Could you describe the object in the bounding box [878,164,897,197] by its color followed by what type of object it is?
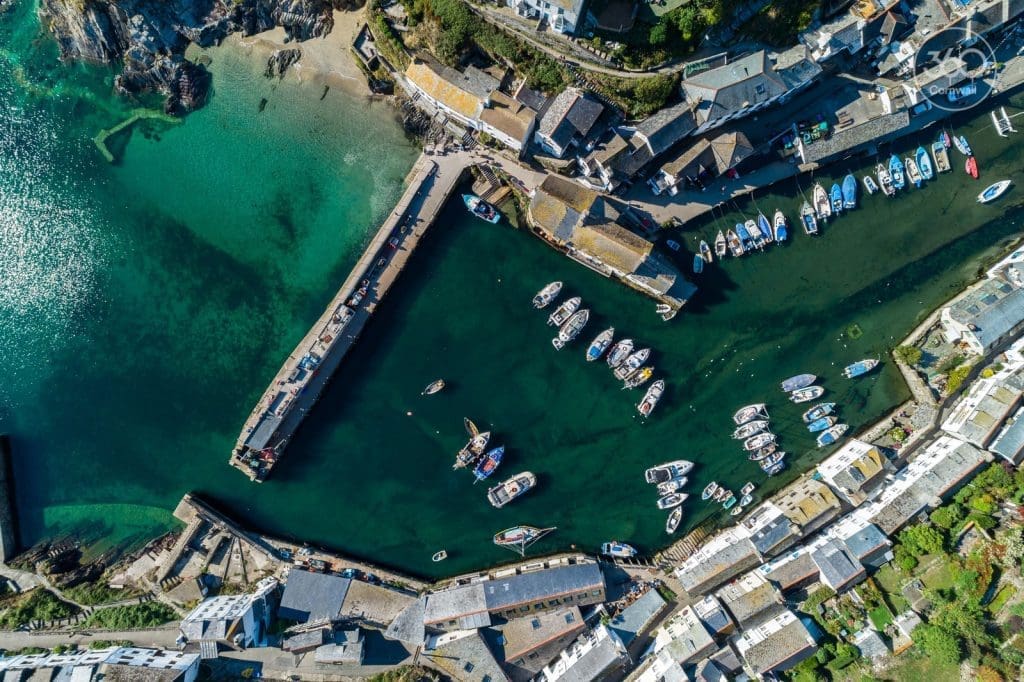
white boat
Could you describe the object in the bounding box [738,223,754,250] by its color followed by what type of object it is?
blue boat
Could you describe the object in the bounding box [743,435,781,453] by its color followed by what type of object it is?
white boat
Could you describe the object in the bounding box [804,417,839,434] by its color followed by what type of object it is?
blue boat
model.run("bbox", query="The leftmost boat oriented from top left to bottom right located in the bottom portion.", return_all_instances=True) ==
[464,418,480,437]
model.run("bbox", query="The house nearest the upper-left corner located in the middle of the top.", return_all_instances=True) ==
[408,53,456,106]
